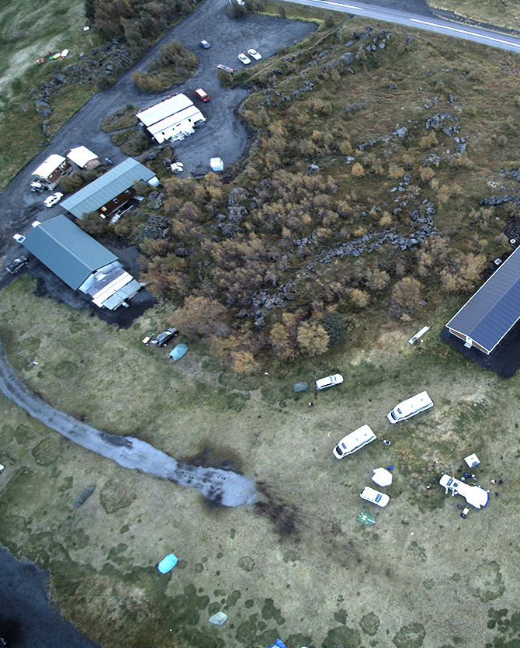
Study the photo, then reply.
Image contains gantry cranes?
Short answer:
No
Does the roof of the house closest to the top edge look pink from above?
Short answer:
No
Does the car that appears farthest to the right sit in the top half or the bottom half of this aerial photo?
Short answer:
bottom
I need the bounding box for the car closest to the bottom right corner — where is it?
[439,476,468,497]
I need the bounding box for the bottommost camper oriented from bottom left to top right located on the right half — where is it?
[334,420,379,462]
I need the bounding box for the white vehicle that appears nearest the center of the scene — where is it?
[315,374,345,391]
